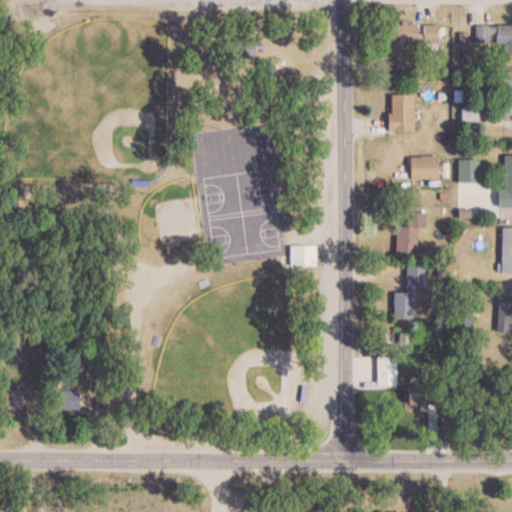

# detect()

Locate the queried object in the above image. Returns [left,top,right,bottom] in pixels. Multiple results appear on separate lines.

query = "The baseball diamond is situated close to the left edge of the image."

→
[5,20,168,180]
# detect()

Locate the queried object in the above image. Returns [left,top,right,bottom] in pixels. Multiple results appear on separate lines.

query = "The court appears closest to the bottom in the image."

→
[210,214,280,256]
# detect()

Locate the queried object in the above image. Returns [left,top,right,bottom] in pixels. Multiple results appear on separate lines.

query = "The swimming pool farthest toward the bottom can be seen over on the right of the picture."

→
[474,234,488,253]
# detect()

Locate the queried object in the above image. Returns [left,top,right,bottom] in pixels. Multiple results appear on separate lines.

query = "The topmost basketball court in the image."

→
[204,169,276,216]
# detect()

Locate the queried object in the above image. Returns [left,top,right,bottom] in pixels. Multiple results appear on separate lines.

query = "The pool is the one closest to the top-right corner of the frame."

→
[422,87,436,102]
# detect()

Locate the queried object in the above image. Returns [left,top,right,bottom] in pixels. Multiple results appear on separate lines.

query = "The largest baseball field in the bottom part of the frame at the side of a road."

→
[154,275,303,430]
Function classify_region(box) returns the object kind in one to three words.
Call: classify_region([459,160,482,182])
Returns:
house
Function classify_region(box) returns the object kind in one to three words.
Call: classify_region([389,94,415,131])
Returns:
house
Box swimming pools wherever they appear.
[474,234,488,253]
[422,87,436,102]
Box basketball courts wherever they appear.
[210,214,280,256]
[204,169,276,216]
